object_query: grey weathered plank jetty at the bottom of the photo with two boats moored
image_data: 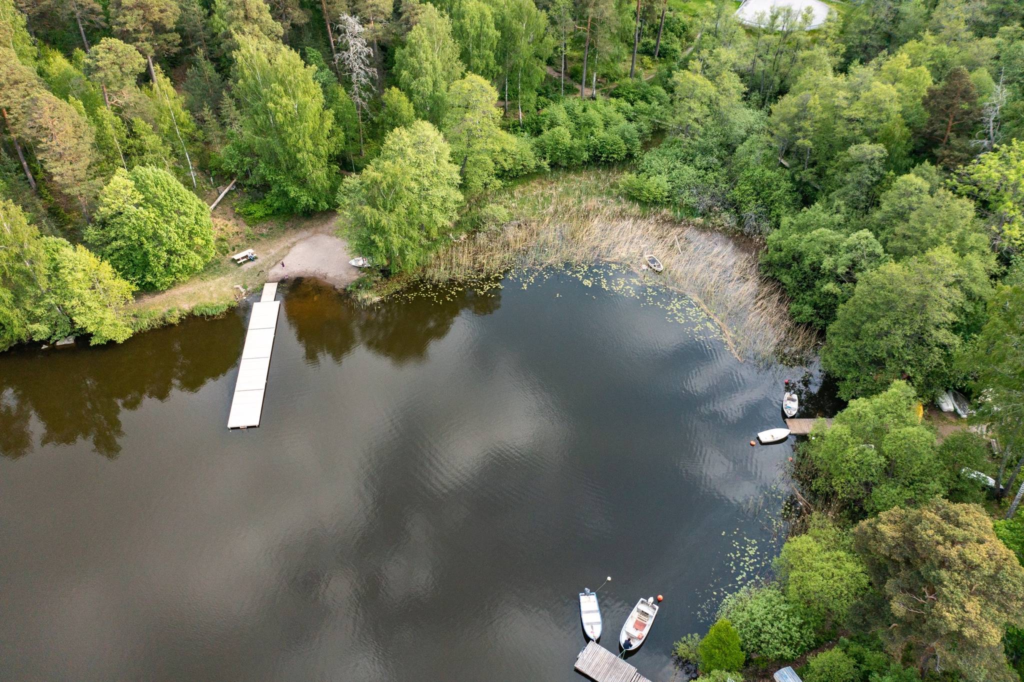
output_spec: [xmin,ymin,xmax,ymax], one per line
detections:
[575,641,647,682]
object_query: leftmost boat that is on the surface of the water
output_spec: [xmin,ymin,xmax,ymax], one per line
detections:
[579,583,602,642]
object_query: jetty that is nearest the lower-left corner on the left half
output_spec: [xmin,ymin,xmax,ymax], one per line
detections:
[228,301,280,433]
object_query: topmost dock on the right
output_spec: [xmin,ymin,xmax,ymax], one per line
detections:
[785,410,850,438]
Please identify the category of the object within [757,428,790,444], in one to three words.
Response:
boat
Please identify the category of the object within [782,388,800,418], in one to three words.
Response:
boat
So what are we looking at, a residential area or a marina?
marina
